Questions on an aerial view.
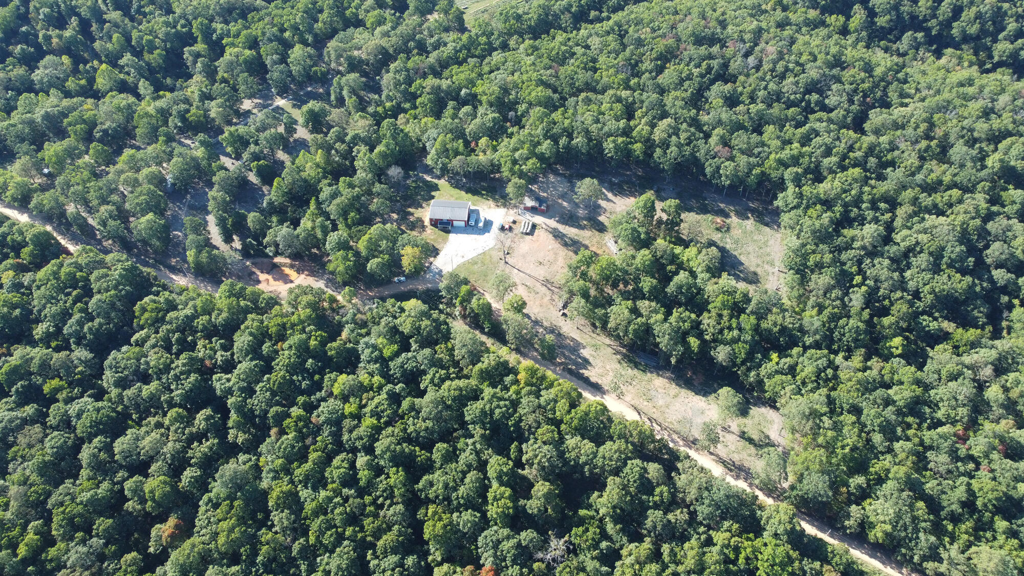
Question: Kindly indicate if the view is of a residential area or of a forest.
forest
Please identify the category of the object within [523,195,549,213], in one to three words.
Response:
shed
